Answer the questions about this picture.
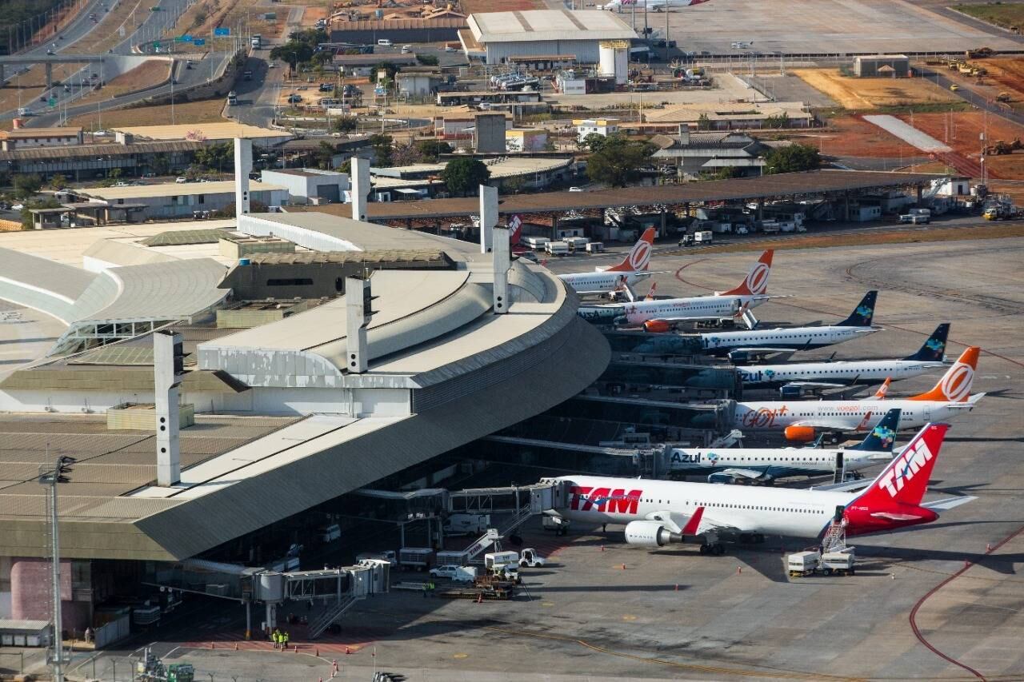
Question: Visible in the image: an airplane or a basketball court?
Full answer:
Of the two, only an airplane appears.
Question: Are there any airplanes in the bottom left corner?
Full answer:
No, looking in the bottom left corner, there is no airplane.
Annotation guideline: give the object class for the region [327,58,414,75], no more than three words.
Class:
building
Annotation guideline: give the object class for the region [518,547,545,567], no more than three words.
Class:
work vehicle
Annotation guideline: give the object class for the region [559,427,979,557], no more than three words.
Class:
airplane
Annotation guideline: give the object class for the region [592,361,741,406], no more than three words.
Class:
jet bridge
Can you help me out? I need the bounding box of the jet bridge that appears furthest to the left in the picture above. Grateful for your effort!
[168,556,398,637]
